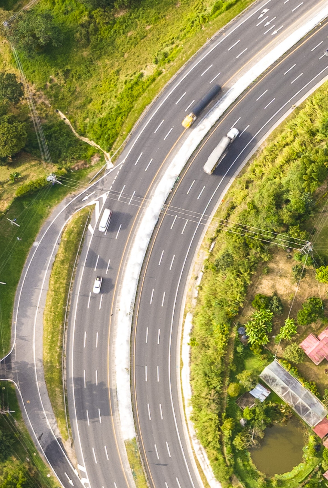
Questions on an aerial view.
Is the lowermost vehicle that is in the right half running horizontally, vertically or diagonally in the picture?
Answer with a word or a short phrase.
diagonally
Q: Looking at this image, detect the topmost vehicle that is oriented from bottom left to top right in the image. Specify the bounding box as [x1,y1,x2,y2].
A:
[185,86,222,129]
